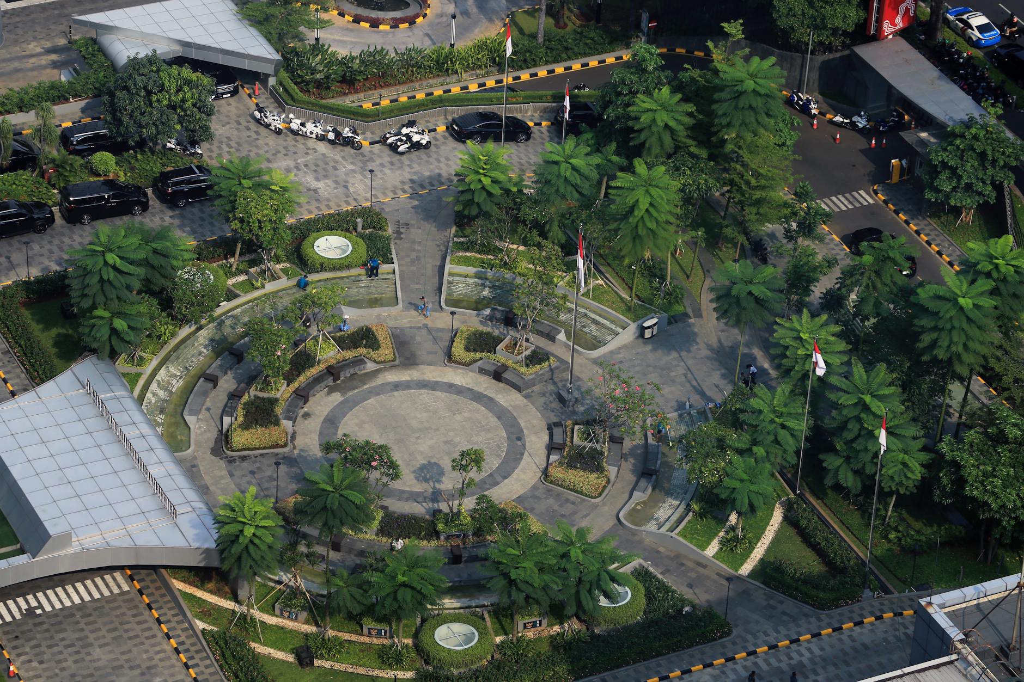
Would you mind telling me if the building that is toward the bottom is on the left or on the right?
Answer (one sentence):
The building that is toward the bottom appears in the right half of the scene.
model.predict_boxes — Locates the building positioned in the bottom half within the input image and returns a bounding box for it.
[909,559,1024,682]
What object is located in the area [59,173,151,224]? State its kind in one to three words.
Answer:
car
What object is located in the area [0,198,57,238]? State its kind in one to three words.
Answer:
car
